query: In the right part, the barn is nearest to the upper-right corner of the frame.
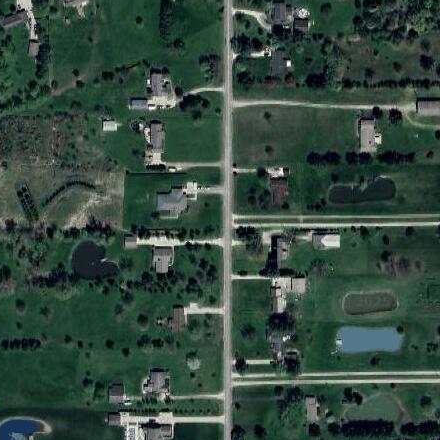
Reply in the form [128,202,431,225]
[417,97,440,115]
